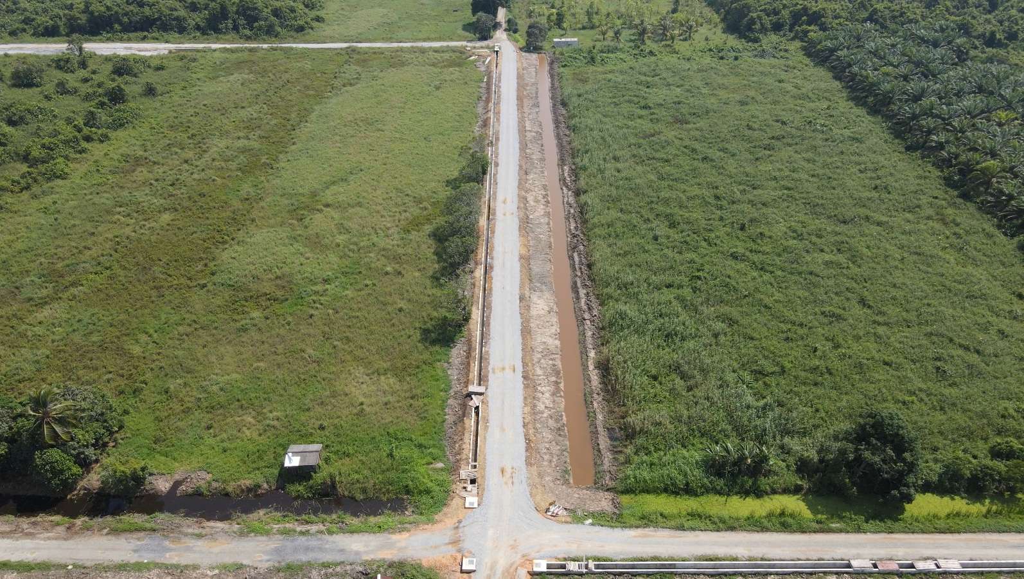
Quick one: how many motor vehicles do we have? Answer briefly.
none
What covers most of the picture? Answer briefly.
grass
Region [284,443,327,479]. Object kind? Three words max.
shed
